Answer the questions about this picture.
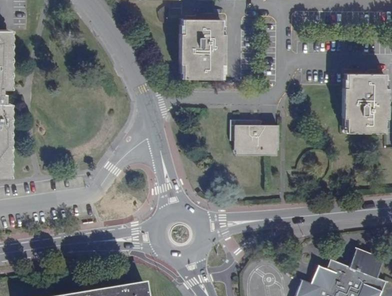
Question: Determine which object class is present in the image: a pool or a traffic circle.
traffic circle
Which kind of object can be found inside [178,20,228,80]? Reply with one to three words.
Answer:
building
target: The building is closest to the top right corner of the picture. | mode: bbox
[340,75,391,134]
